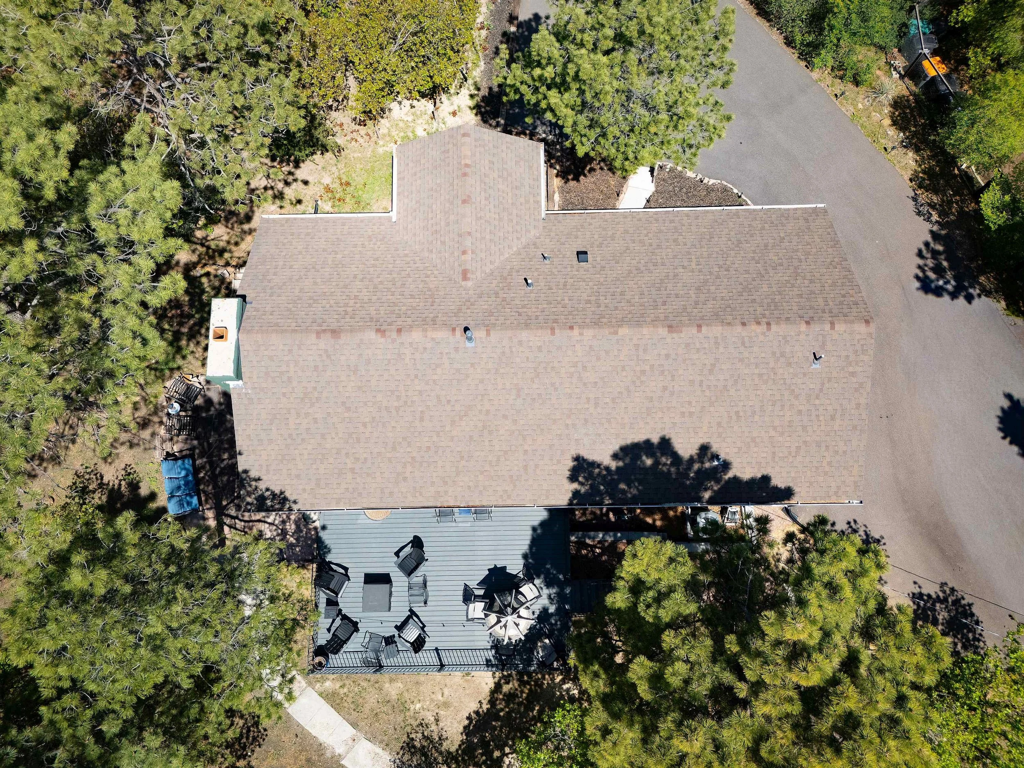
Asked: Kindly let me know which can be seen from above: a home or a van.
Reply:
home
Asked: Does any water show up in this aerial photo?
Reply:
No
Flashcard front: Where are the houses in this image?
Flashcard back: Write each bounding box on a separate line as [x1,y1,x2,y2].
[207,123,874,513]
